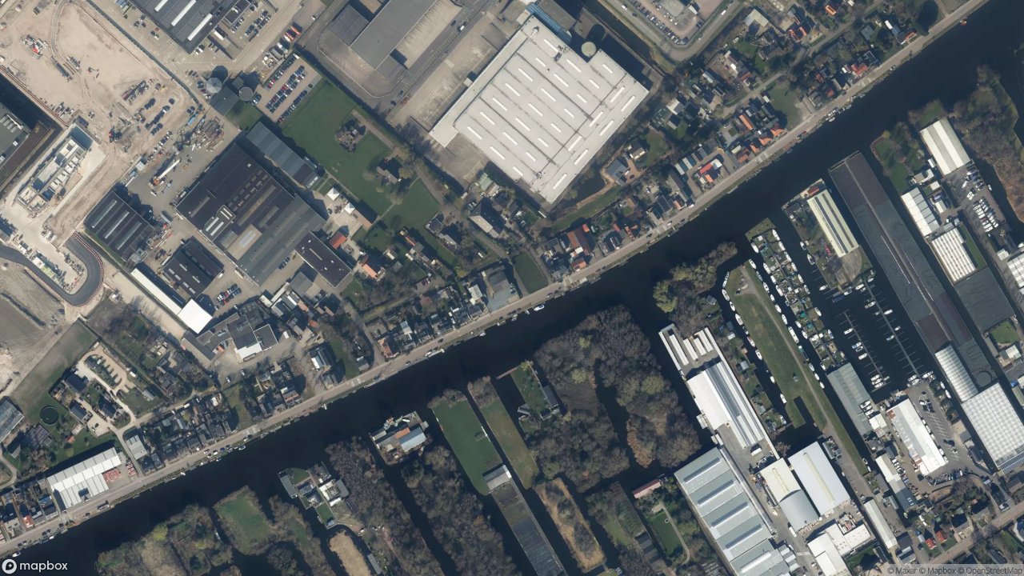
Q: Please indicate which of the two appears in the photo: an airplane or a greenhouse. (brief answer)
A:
greenhouse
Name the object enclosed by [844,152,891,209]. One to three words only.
house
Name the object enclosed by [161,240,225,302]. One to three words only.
building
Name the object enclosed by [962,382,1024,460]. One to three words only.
greenhouse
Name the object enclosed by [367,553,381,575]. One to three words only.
boat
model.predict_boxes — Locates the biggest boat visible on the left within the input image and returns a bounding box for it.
[278,470,294,496]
